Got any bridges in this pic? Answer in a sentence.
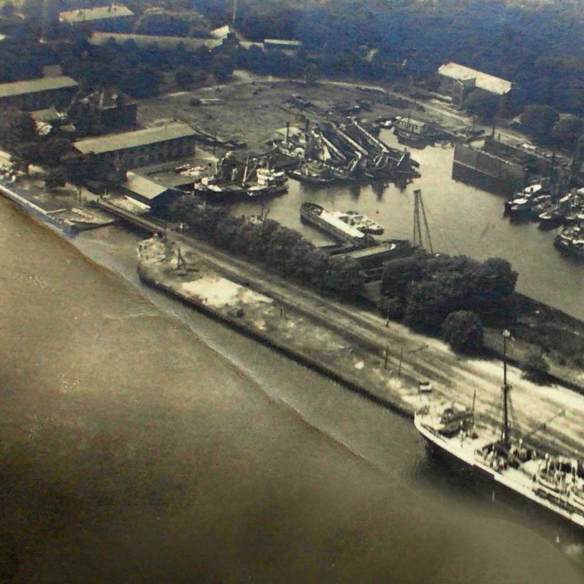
Yes, the picture does show a bridge.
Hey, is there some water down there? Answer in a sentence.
Yes, water shows up in the scene.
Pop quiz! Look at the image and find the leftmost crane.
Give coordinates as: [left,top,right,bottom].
[410,189,452,260]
